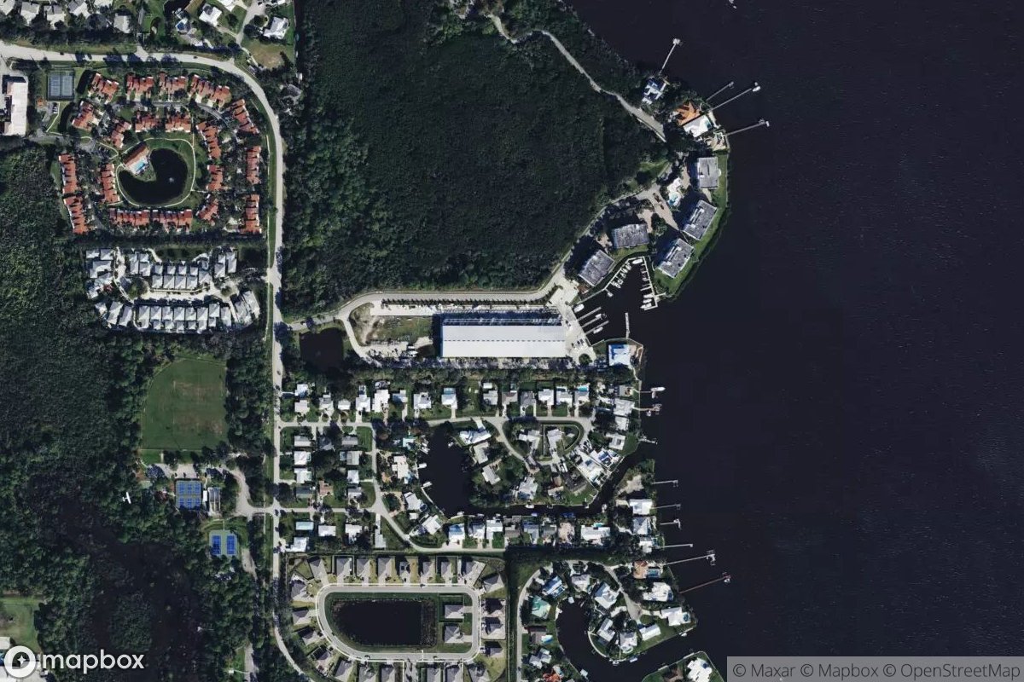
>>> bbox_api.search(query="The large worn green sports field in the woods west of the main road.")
[142,359,228,450]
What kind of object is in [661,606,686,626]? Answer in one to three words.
house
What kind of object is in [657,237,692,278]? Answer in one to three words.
building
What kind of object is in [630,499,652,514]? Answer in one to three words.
house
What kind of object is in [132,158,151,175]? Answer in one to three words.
swimming pool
